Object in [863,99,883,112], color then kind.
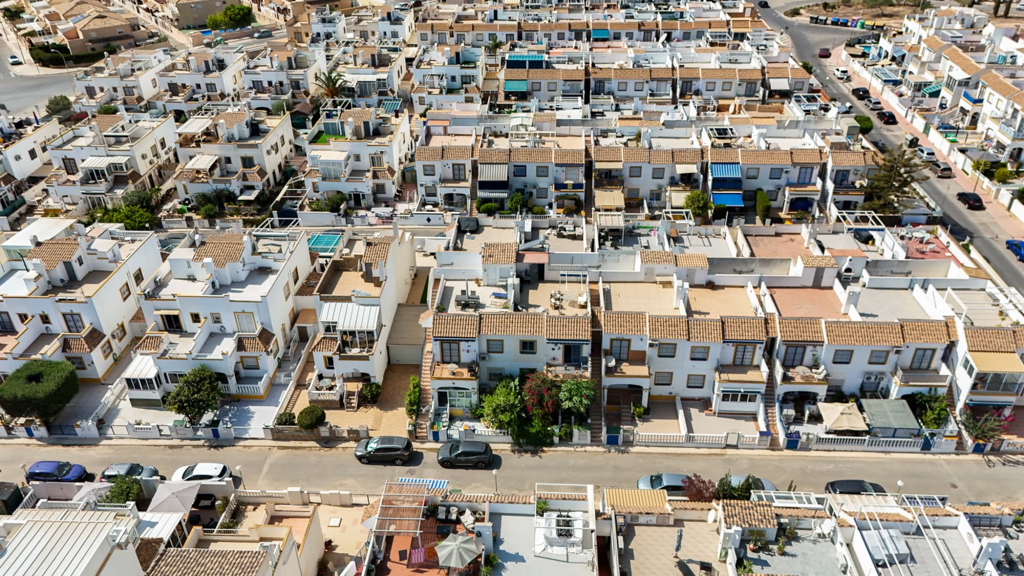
gray vehicle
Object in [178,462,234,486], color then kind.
white car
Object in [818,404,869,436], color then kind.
white umbrella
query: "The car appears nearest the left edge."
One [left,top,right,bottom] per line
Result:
[7,54,22,66]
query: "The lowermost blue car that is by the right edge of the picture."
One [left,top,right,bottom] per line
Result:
[1002,240,1024,264]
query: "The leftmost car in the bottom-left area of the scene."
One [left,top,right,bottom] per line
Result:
[26,460,90,481]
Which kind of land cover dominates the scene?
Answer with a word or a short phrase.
buildings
